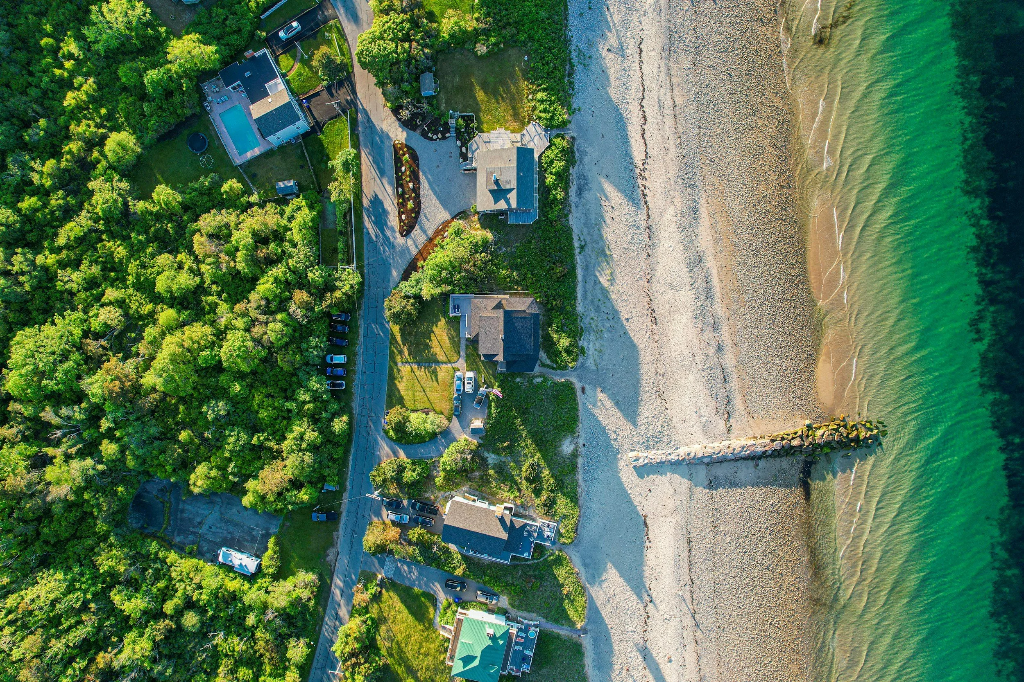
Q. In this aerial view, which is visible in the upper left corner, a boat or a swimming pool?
swimming pool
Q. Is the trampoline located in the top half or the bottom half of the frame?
top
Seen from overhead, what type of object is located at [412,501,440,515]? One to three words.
vehicle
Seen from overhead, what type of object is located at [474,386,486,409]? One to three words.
vehicle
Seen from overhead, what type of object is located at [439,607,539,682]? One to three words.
building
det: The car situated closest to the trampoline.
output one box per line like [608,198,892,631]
[278,21,302,39]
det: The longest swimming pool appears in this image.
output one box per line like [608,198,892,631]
[219,102,261,156]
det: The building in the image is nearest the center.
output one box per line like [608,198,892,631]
[449,294,539,374]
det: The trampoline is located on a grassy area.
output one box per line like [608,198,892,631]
[187,131,207,151]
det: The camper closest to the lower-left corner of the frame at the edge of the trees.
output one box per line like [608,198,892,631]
[216,546,263,576]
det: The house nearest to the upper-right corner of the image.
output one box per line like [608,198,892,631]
[460,120,572,225]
